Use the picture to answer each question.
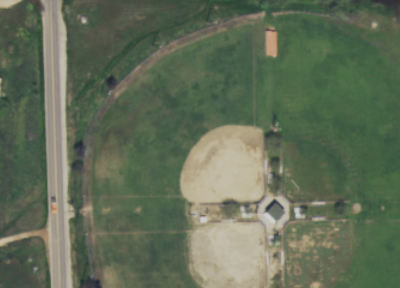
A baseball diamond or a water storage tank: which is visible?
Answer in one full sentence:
Looking from above, you can make out a baseball diamond.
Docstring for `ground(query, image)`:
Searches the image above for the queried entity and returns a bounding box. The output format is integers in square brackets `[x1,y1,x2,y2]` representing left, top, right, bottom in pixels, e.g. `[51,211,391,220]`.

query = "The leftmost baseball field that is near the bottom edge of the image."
[95,222,265,288]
